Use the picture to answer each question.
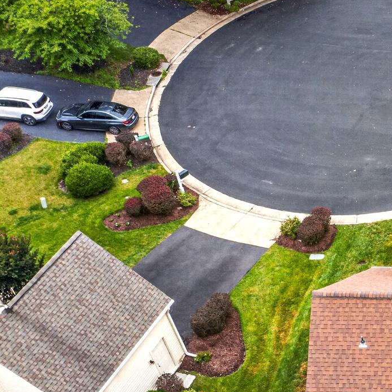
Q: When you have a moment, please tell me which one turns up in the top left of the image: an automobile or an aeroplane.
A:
automobile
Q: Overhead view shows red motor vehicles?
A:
No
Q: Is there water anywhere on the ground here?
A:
No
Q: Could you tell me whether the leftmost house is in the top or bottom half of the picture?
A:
bottom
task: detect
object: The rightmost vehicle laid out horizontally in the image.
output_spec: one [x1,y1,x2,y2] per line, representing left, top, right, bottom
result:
[52,99,139,135]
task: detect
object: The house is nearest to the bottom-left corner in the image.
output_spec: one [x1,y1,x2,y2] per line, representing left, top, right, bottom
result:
[0,237,209,392]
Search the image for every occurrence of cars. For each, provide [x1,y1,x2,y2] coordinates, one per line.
[0,85,51,126]
[52,99,139,135]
